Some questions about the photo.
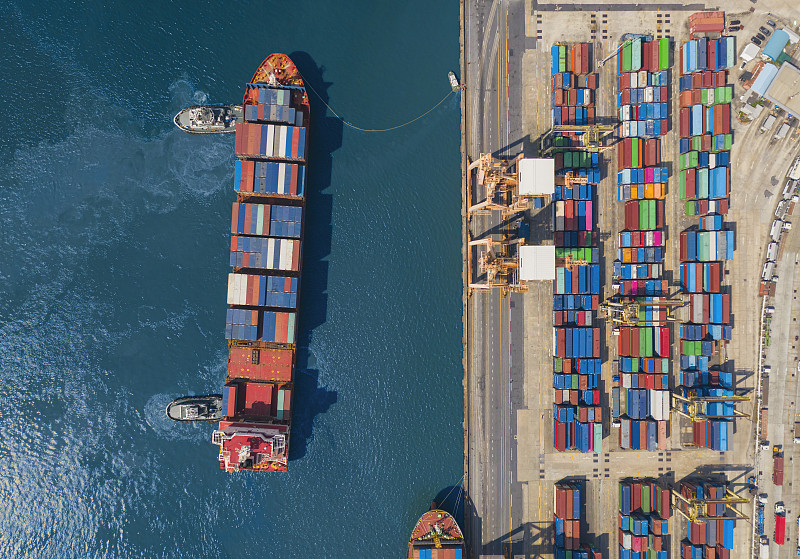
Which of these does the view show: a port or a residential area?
port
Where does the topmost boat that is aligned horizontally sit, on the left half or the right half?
left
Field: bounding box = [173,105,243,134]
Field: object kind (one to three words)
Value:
boat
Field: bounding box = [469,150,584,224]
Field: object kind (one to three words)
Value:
container crane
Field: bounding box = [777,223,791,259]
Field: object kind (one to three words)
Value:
vehicle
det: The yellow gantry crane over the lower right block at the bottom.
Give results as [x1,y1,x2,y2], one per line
[672,481,755,522]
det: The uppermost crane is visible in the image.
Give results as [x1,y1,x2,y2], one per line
[541,124,616,159]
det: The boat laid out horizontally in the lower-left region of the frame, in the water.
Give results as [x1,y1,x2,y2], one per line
[166,394,226,422]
